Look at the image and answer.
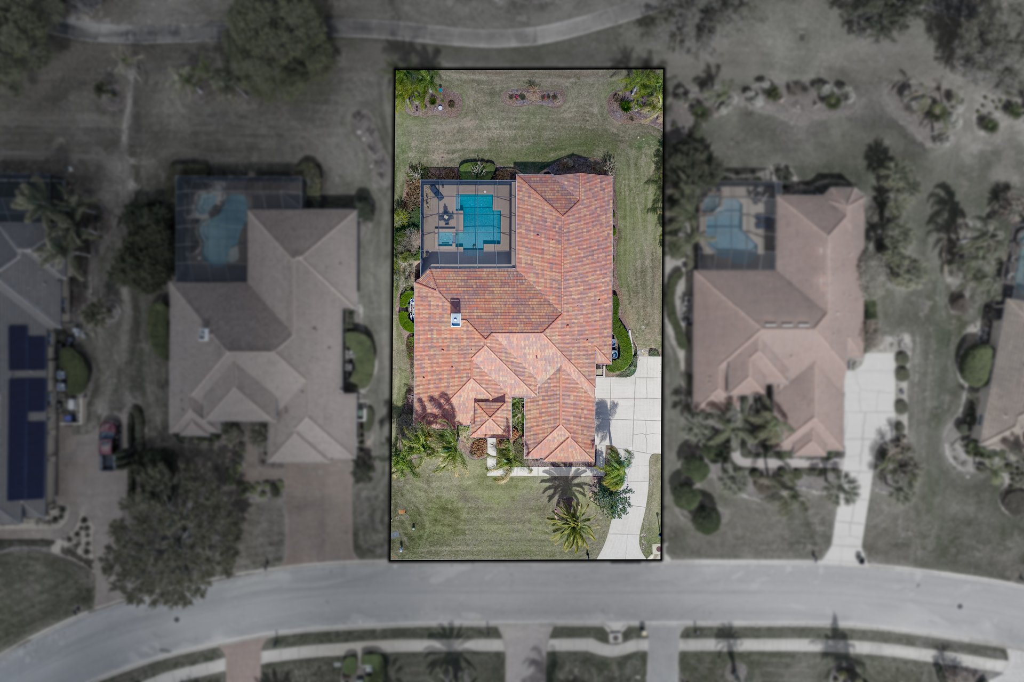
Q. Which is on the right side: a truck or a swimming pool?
swimming pool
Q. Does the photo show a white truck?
No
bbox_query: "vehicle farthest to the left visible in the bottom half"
[97,417,122,470]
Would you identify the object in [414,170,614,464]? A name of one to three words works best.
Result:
house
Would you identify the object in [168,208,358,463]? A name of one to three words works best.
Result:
house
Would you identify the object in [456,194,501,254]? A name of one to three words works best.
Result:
swimming pool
